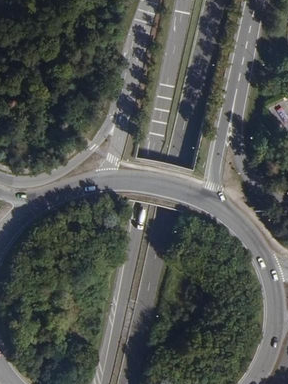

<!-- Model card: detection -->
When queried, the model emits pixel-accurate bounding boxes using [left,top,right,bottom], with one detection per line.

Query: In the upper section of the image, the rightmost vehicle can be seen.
[275,105,288,122]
